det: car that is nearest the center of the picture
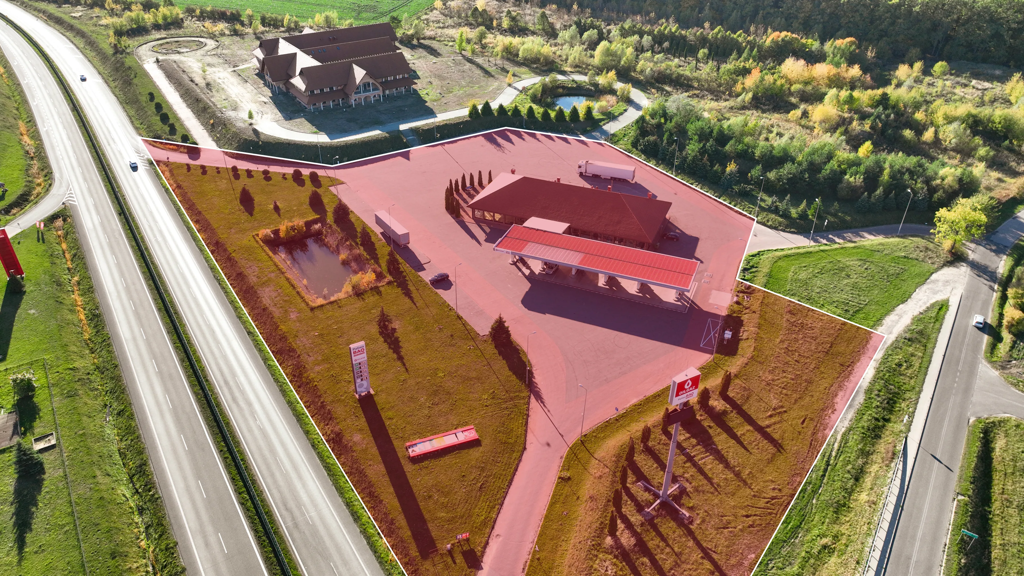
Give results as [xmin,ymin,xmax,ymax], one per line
[545,263,559,275]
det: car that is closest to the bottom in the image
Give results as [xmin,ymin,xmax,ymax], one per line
[973,316,987,330]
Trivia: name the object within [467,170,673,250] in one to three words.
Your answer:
building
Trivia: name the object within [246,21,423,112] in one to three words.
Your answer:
house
